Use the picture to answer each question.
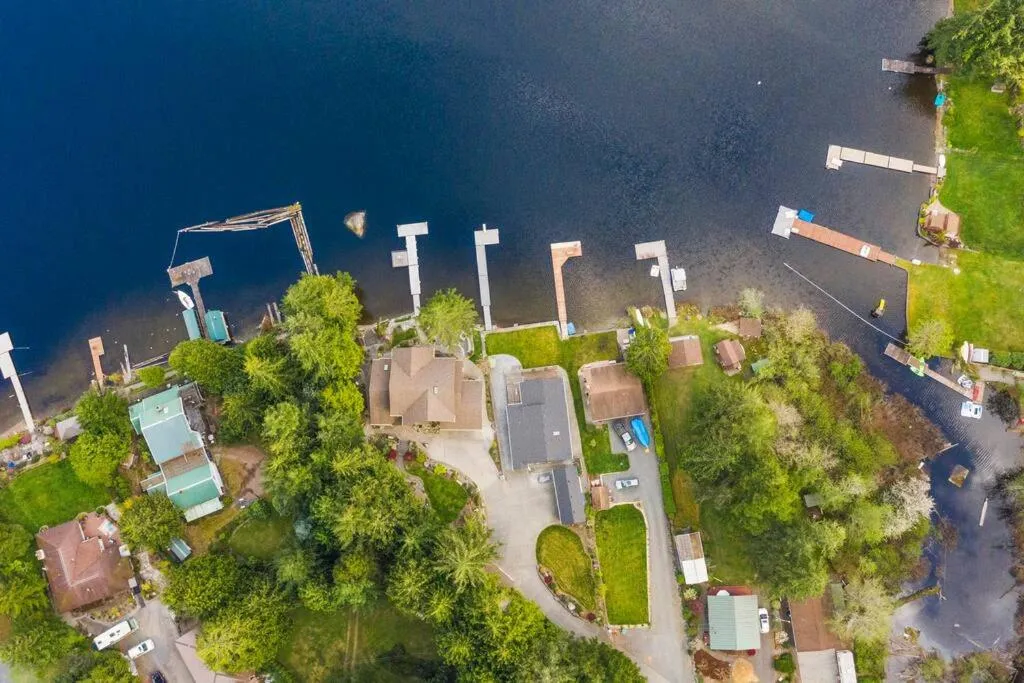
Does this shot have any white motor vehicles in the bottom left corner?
Yes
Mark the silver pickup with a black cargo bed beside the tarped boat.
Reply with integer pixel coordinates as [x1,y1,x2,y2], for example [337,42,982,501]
[612,419,638,453]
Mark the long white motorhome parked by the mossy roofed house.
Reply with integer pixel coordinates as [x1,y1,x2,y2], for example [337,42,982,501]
[84,619,138,656]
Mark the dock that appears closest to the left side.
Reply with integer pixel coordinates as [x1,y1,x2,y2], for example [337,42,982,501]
[0,332,35,431]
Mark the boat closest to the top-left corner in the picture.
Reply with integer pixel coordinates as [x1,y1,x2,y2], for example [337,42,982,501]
[170,291,193,310]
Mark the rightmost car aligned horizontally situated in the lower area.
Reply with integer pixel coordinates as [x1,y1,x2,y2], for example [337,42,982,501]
[614,476,641,491]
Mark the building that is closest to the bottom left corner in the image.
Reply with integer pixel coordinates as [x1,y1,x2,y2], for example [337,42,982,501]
[36,520,137,614]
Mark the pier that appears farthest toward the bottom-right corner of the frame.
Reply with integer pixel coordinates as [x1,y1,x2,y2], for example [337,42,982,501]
[882,343,985,403]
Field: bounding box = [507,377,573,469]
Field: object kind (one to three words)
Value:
house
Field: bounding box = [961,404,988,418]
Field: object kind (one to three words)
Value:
boat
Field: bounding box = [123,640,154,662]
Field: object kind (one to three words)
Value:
truck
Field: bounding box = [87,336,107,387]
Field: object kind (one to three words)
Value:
pier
